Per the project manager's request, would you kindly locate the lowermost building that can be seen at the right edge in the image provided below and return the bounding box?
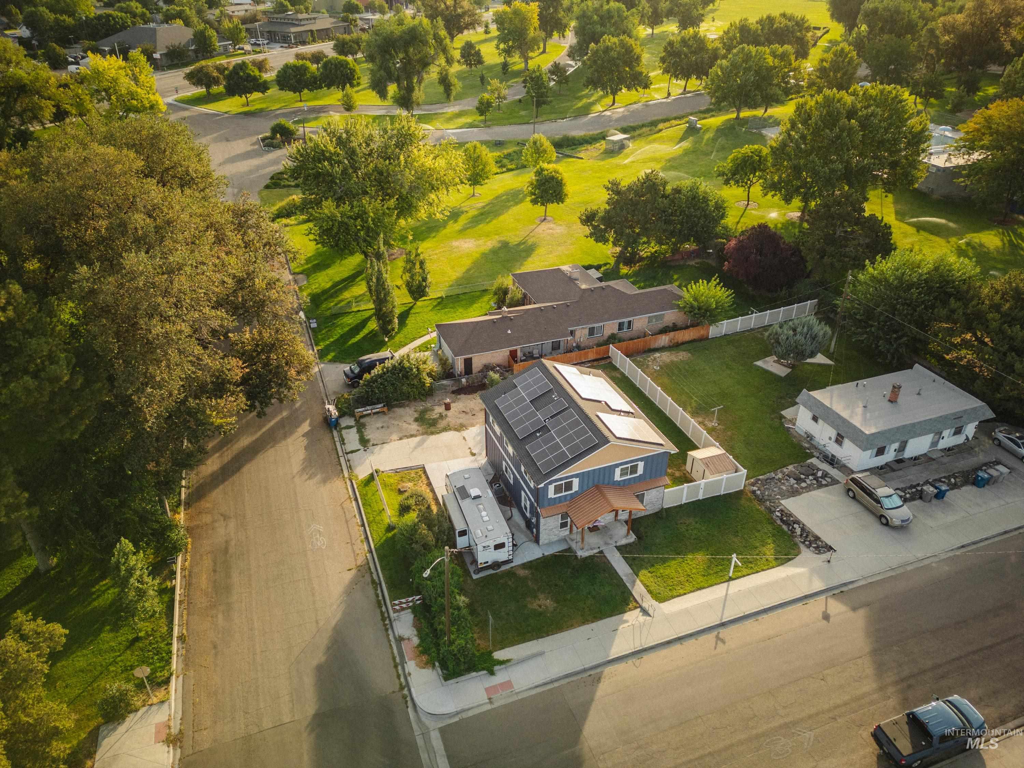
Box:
[795,364,997,474]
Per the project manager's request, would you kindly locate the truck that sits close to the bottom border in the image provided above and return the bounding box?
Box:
[871,696,985,765]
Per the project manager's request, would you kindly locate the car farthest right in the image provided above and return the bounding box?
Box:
[991,424,1024,456]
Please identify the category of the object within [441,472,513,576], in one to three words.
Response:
vehicle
